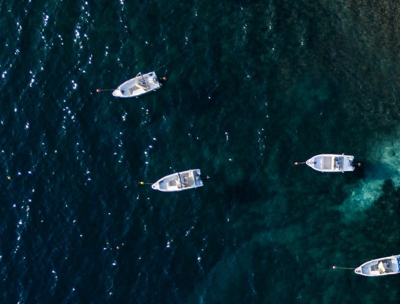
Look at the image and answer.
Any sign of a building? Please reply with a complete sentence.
No, there is no building in the image.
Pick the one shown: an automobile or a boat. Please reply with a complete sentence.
Visible in the photo is a boat.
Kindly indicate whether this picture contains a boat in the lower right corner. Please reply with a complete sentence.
Yes, the scene does show a boat in the lower right corner.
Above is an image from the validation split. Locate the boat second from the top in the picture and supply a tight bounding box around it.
[306,153,363,173]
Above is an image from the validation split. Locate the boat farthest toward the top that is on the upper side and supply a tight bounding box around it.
[112,71,166,97]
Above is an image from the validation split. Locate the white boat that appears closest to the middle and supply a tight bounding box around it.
[151,170,210,192]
